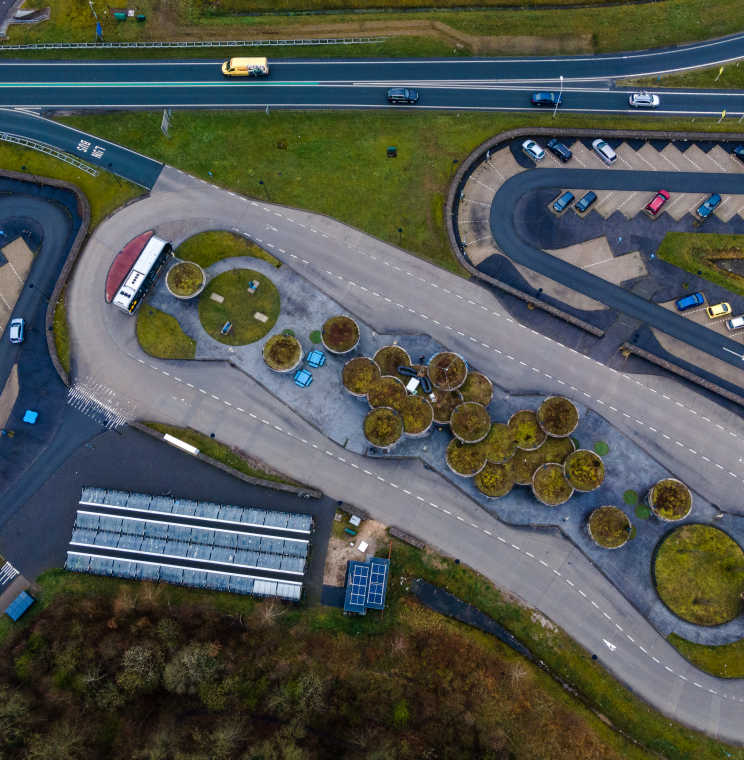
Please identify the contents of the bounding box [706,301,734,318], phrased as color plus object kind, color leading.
yellow car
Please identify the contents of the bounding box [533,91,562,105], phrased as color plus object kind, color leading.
blue car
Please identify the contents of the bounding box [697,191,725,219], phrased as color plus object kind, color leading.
blue car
